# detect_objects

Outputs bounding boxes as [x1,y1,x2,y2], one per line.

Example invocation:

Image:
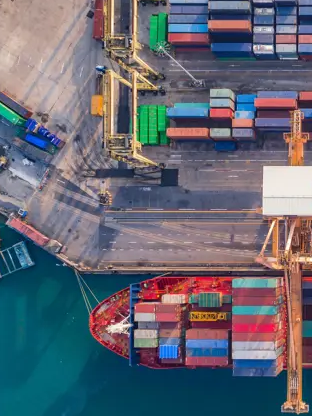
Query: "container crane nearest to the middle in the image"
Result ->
[104,73,166,168]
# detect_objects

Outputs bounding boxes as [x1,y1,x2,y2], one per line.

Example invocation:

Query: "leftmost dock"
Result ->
[0,241,38,282]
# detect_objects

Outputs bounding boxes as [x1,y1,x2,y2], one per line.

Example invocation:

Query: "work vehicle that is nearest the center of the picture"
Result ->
[98,189,114,209]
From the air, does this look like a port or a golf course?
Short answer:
port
